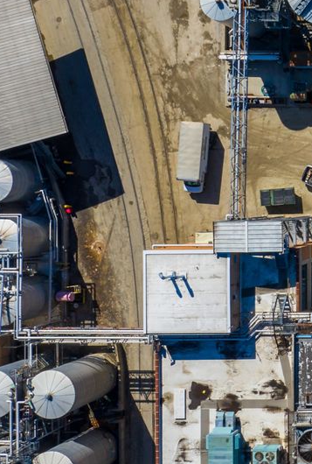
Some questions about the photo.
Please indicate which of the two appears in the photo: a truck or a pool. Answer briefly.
truck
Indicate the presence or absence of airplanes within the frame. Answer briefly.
No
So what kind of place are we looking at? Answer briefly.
industrial area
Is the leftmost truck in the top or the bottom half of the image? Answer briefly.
top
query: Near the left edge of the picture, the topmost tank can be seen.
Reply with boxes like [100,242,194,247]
[0,158,48,201]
